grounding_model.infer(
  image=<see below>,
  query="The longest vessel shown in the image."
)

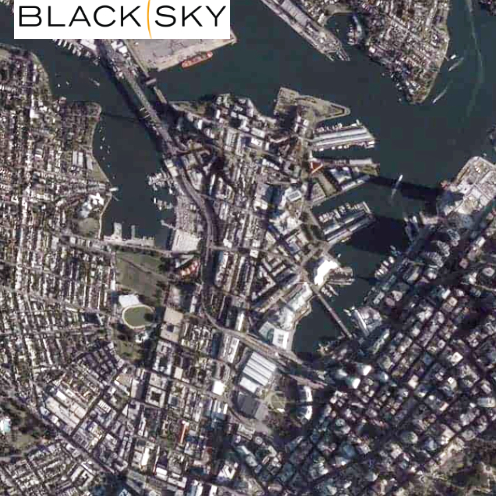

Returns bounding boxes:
[182,51,212,66]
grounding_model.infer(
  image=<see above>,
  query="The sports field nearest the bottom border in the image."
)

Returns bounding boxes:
[118,293,155,330]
